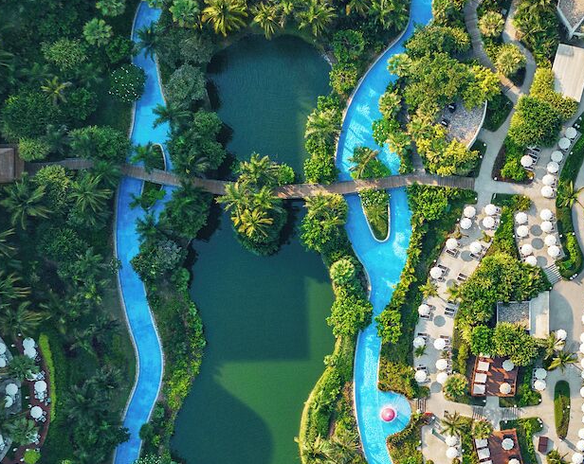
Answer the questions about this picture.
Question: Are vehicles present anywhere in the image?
No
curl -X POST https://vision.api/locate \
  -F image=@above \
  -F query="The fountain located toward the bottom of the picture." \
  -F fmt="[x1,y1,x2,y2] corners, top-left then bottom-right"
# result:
[381,406,396,422]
